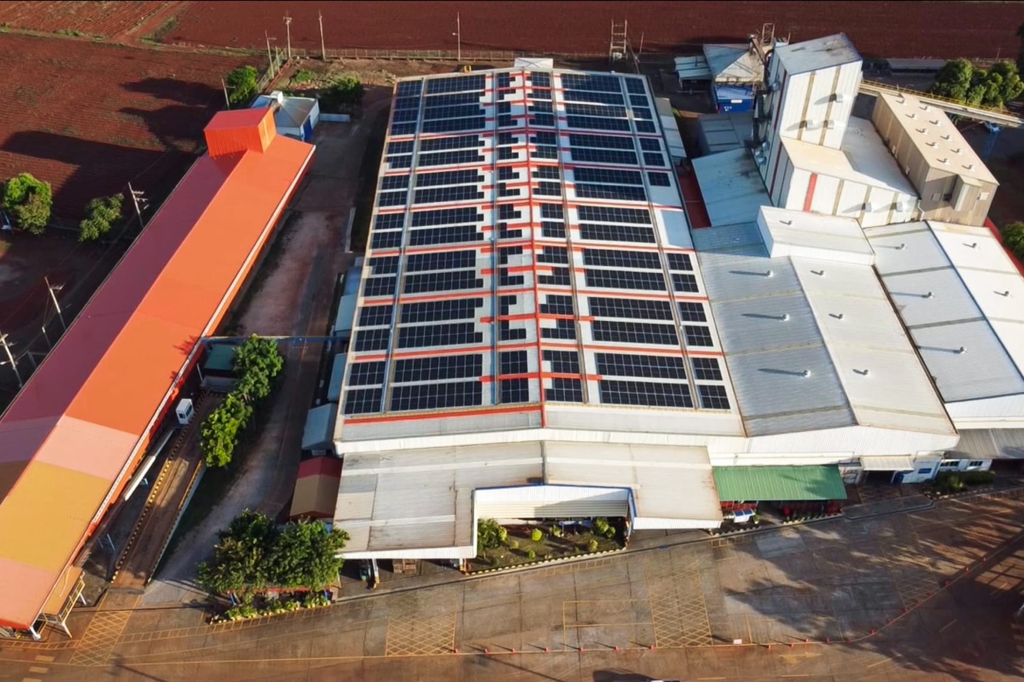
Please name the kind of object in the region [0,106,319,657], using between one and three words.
shed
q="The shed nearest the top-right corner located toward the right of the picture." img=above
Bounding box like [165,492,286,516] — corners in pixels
[886,57,947,81]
